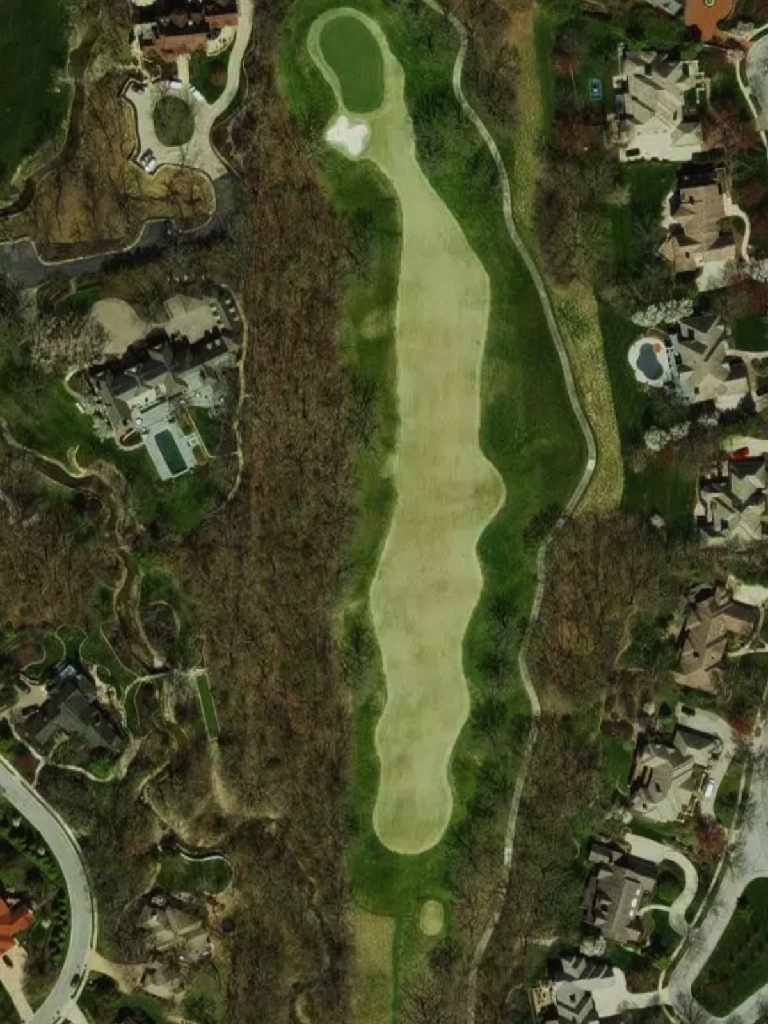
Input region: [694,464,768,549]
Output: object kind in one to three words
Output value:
house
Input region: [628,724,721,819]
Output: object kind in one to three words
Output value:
house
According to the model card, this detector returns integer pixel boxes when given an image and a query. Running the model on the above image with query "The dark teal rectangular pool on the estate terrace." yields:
[154,429,188,475]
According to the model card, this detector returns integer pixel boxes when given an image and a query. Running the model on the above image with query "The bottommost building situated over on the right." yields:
[533,957,617,1024]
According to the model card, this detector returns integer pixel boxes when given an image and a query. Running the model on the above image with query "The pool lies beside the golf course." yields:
[628,338,671,388]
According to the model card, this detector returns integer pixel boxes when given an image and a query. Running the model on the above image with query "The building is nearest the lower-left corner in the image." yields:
[0,902,36,952]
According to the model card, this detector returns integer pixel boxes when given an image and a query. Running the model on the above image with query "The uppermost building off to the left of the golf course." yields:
[143,2,239,62]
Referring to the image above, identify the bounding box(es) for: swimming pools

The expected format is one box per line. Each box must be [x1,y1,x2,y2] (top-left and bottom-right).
[154,429,188,475]
[628,338,671,388]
